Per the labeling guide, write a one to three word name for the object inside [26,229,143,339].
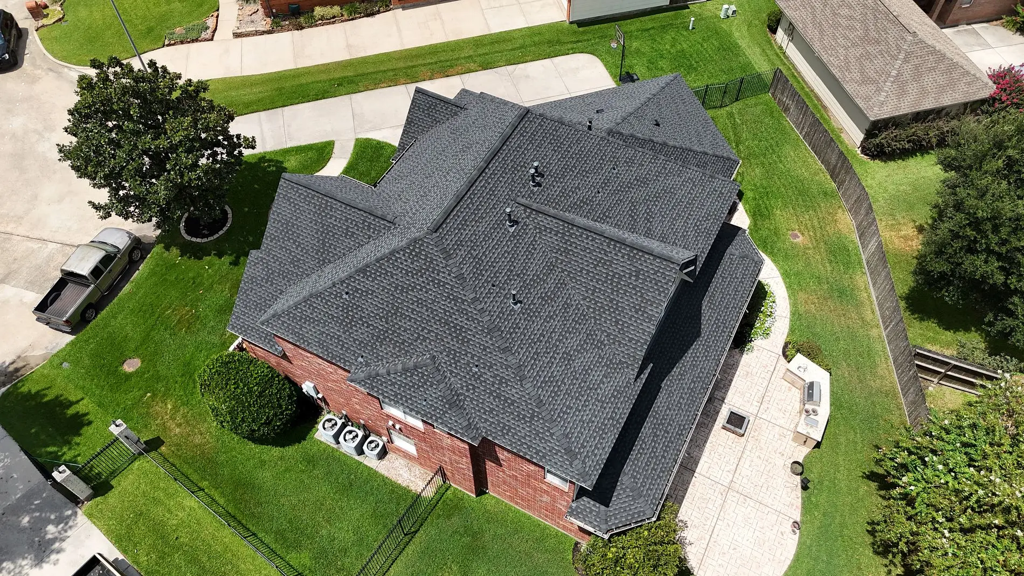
truck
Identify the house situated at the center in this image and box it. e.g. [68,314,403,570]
[226,72,767,544]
